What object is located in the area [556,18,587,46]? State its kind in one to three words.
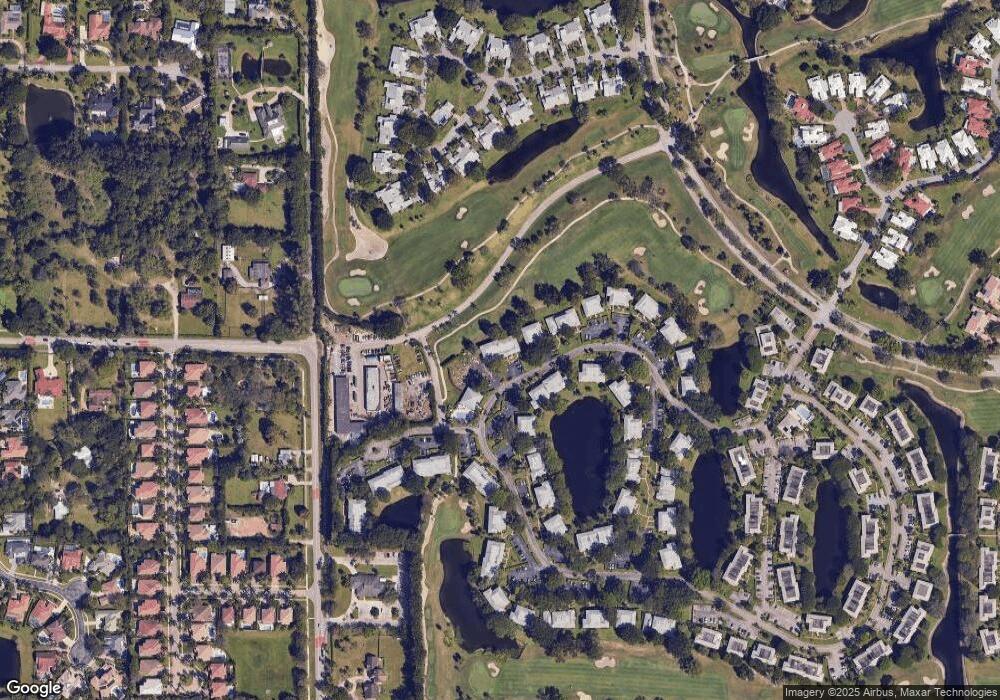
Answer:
house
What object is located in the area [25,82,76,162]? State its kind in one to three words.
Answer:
pond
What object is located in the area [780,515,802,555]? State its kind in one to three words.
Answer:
building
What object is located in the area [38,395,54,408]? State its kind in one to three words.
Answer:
swimming pool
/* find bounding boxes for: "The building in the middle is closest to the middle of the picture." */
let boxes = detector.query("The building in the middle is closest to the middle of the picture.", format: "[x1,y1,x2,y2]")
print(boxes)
[480,334,521,361]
